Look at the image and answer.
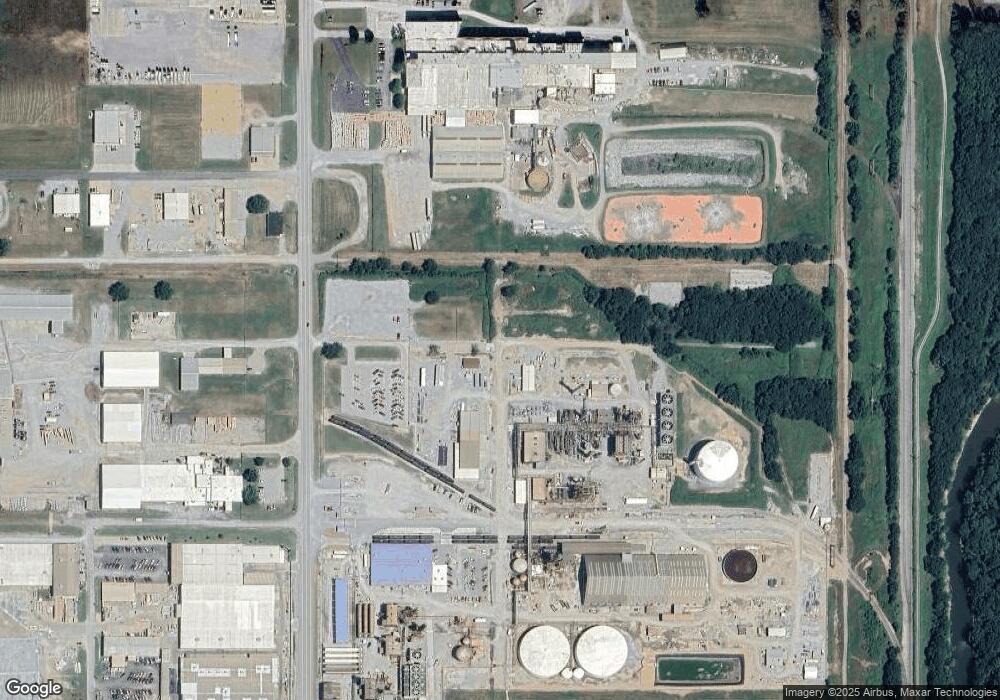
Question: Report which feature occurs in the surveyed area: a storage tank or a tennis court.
storage tank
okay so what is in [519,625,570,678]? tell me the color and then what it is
white storage tank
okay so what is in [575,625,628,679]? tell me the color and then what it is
white storage tank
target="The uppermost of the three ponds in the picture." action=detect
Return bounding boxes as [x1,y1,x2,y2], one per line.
[604,136,766,189]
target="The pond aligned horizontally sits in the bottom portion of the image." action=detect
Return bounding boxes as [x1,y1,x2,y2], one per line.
[654,655,745,686]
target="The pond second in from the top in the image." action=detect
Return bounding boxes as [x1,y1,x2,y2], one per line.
[603,193,765,245]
